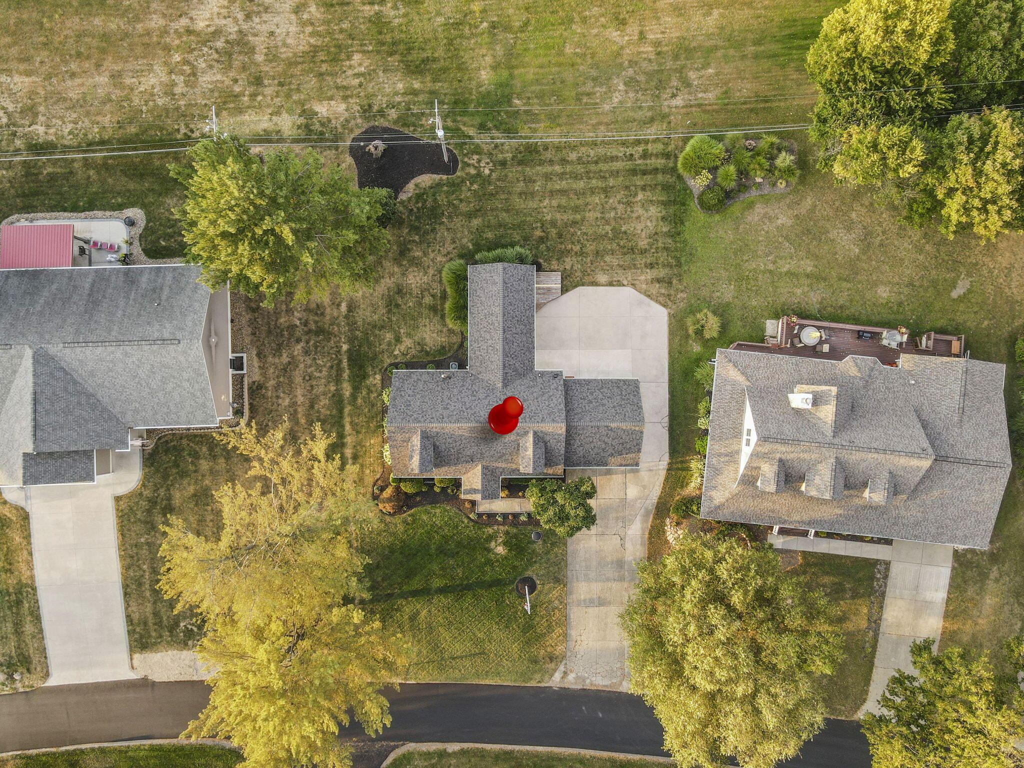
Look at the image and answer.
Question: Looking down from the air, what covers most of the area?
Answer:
grass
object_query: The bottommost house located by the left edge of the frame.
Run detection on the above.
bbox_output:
[0,263,248,489]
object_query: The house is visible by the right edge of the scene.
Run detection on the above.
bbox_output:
[699,348,1012,550]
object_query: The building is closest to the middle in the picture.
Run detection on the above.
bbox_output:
[386,262,644,501]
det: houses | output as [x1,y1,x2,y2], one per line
[386,262,644,501]
[0,263,248,489]
[699,348,1012,550]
